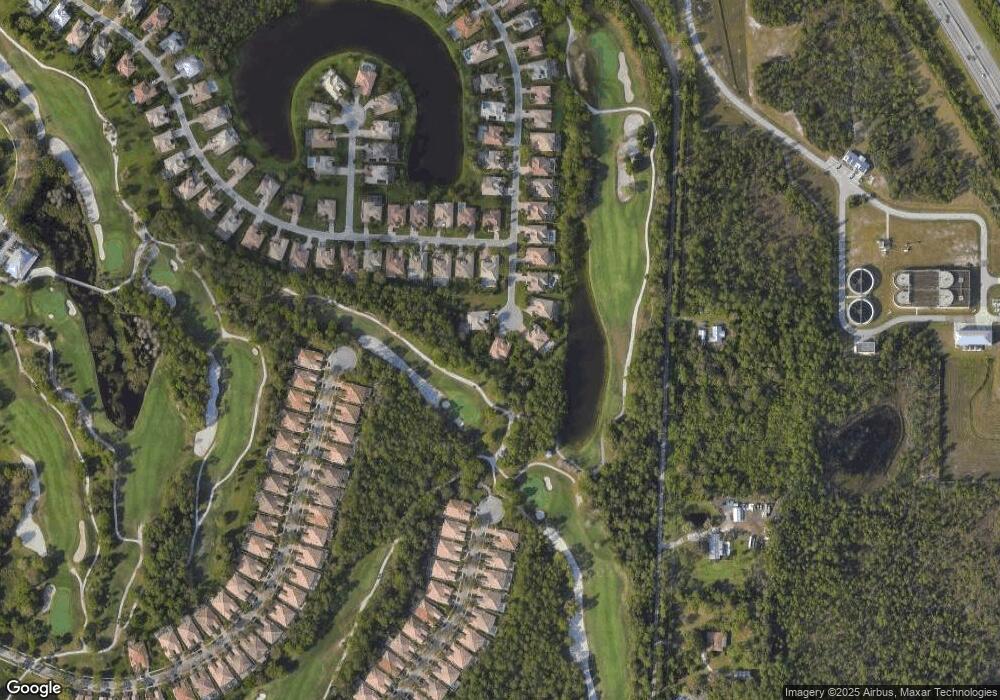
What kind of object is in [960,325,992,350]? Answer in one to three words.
building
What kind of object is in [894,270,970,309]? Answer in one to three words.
storage tank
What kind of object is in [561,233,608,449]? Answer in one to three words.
pond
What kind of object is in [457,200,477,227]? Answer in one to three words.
house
